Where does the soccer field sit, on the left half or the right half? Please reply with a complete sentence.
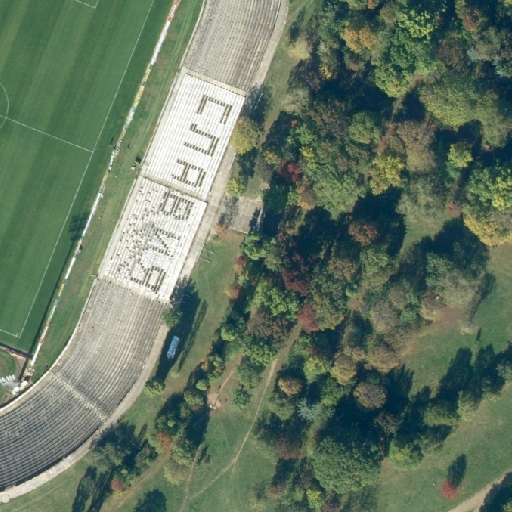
The soccer field appears in the left half of the scene.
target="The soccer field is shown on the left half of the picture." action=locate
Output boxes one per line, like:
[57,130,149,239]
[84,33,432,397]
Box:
[0,0,176,354]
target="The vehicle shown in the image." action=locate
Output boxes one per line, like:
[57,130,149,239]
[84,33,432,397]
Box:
[166,336,179,358]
